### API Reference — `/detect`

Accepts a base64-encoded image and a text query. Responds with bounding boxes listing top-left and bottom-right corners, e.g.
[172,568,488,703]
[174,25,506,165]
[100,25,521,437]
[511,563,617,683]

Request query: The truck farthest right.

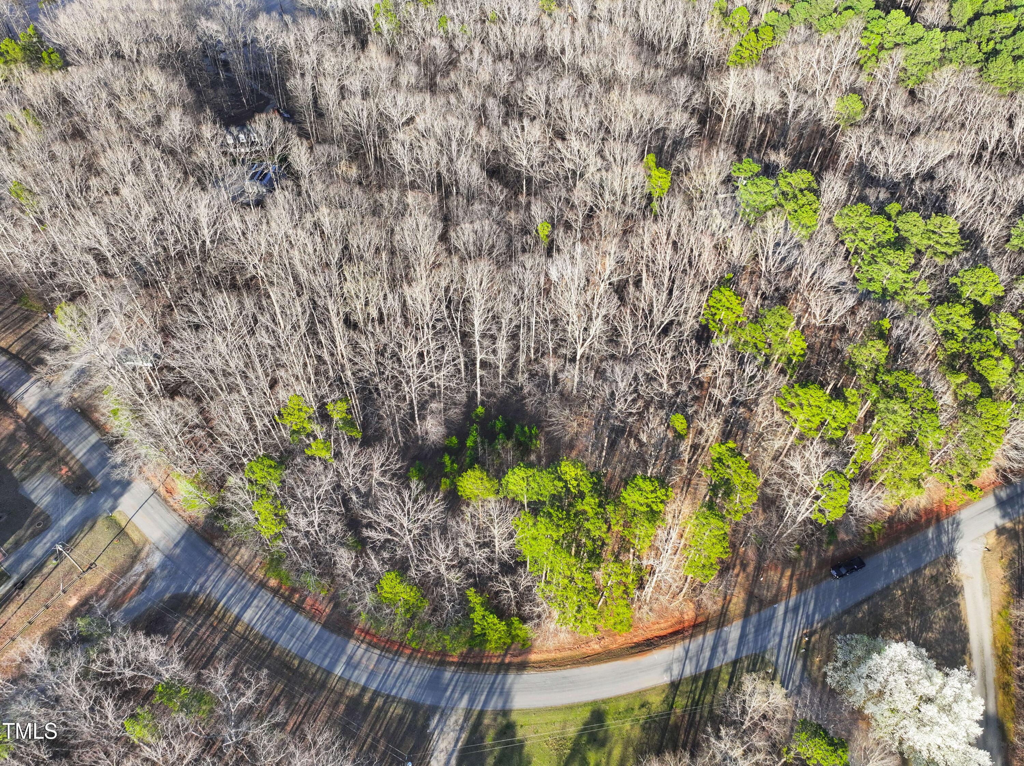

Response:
[832,555,870,580]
